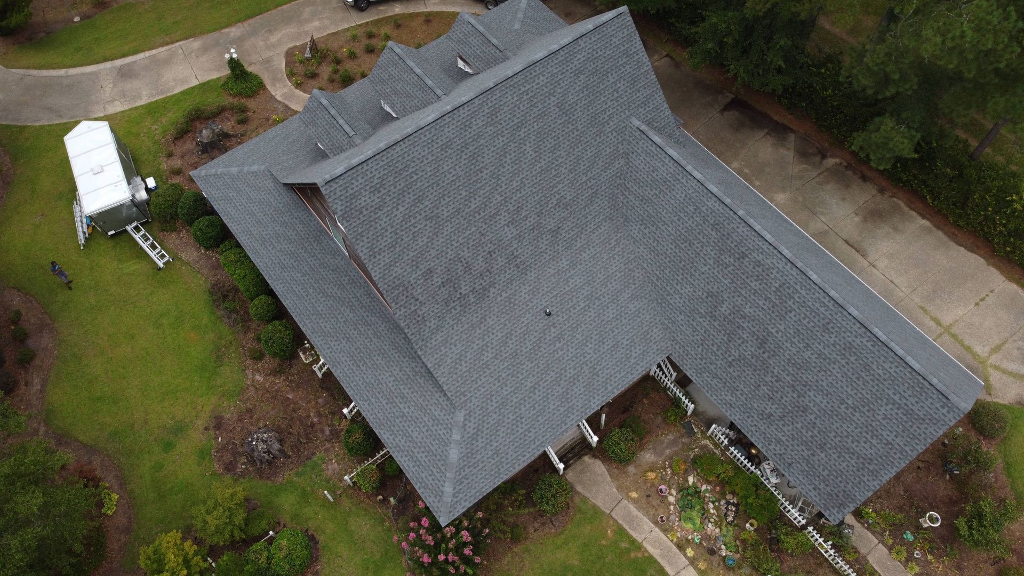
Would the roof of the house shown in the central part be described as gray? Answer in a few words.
Yes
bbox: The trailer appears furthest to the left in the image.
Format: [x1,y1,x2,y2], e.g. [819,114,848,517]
[63,121,153,241]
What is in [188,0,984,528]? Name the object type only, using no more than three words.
house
